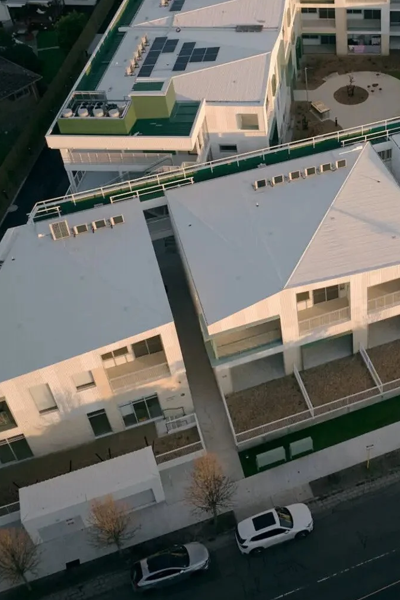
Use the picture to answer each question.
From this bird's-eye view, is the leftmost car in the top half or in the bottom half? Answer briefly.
bottom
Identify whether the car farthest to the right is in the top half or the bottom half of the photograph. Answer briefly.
bottom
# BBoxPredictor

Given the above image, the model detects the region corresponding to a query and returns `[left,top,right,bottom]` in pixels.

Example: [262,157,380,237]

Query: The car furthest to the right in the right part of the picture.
[236,506,314,561]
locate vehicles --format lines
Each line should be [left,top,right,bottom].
[129,544,211,600]
[236,506,314,561]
